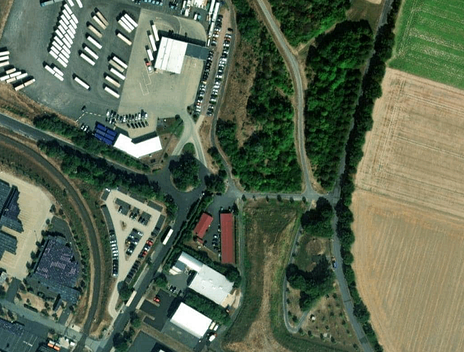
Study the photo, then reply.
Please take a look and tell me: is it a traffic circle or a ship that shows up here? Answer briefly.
traffic circle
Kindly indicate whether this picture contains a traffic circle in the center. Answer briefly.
Yes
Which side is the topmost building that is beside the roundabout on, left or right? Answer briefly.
left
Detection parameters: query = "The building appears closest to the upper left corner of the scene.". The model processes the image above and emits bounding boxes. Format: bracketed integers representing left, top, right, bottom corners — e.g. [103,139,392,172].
[154,36,188,76]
